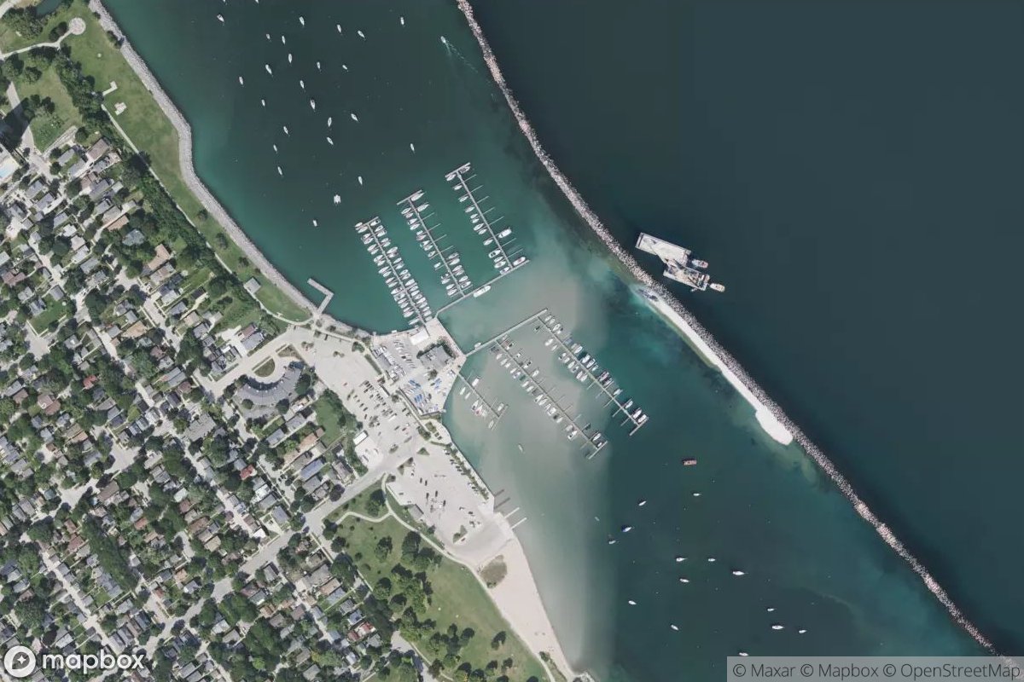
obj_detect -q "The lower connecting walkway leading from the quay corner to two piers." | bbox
[465,307,548,358]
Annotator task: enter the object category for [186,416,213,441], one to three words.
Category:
building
